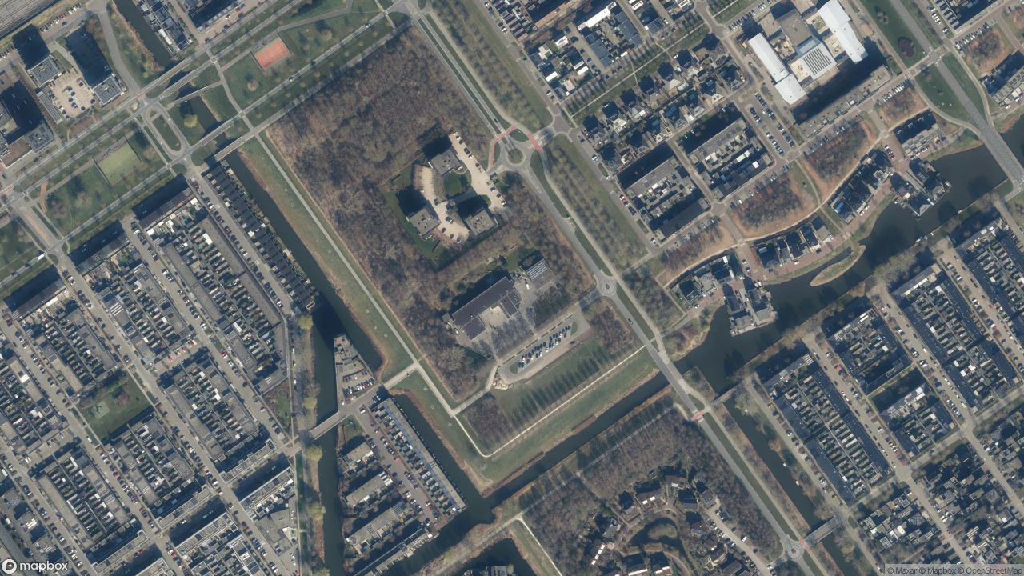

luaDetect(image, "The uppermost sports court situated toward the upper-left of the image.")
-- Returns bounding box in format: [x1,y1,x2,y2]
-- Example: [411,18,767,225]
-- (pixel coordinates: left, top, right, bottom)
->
[255,38,289,69]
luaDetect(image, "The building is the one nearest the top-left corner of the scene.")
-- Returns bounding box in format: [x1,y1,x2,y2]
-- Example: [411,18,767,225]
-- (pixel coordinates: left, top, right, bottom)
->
[27,54,61,87]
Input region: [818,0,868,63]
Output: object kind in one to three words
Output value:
building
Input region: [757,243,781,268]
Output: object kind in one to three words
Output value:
house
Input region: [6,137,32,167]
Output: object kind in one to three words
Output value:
building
